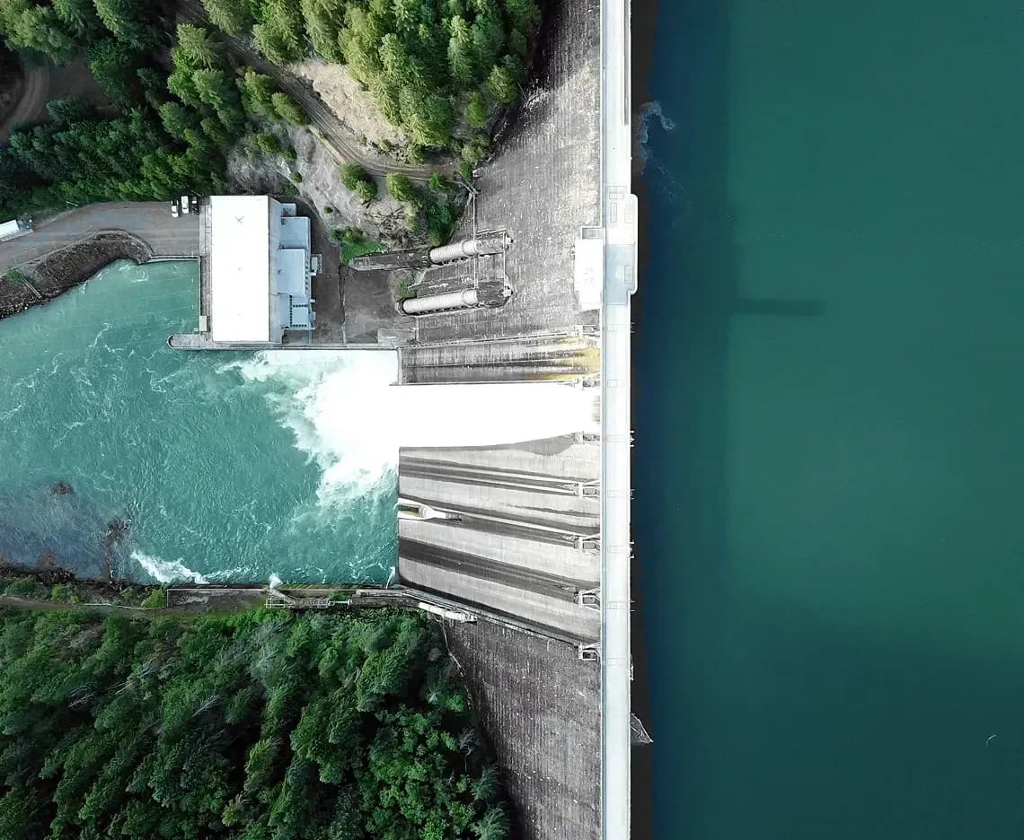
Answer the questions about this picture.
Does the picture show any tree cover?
Yes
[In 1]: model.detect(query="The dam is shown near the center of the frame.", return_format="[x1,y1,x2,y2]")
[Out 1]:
[384,0,637,840]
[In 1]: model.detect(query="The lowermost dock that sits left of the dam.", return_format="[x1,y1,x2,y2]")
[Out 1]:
[171,334,221,351]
